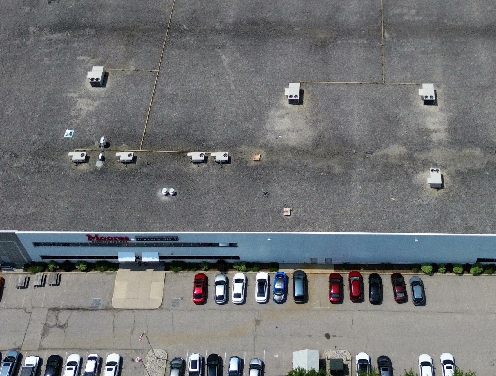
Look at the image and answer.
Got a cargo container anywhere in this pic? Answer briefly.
No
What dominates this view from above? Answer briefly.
buildings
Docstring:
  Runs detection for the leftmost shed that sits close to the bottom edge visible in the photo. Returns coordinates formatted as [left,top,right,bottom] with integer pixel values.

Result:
[298,353,325,374]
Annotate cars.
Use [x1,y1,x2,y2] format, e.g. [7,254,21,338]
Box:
[45,354,62,376]
[349,272,364,302]
[377,353,393,376]
[206,353,221,376]
[214,274,228,305]
[292,271,307,305]
[65,353,83,376]
[83,352,101,376]
[0,351,22,376]
[228,354,242,376]
[356,351,370,376]
[187,351,203,376]
[439,352,455,376]
[368,273,382,305]
[410,277,426,306]
[418,353,435,376]
[328,273,343,305]
[255,273,268,304]
[232,273,246,305]
[273,273,287,302]
[170,357,186,376]
[193,273,207,305]
[249,357,264,376]
[20,353,41,376]
[105,353,121,376]
[391,273,408,305]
